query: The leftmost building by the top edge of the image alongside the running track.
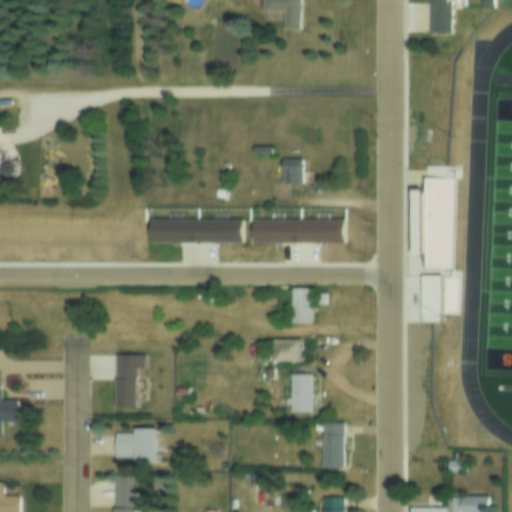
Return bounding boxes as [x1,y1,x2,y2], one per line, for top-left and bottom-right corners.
[430,0,469,33]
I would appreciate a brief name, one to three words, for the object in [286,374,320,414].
house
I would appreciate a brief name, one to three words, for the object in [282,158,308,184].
house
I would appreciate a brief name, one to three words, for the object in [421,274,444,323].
building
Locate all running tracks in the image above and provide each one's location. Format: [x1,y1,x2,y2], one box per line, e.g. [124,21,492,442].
[462,24,512,456]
